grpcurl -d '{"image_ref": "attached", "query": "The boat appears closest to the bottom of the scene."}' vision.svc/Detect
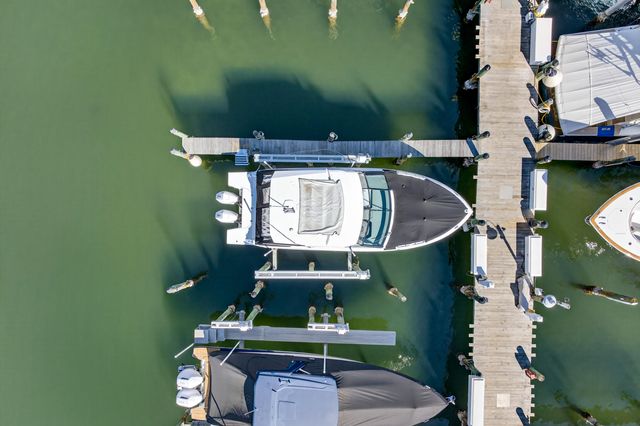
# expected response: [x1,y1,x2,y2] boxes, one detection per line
[176,342,453,426]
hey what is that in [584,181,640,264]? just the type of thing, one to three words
boat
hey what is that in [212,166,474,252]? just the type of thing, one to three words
boat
